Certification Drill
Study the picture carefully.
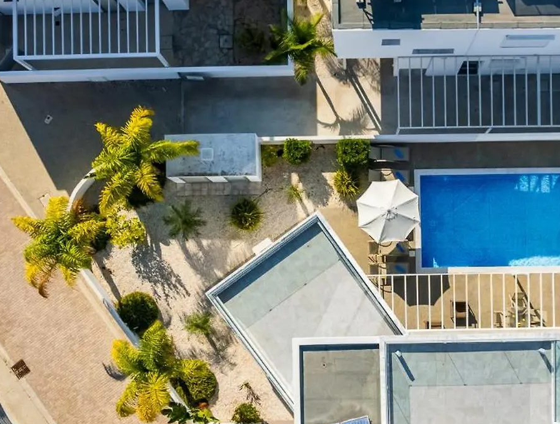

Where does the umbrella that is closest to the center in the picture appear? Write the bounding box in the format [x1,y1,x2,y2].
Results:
[355,179,421,245]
